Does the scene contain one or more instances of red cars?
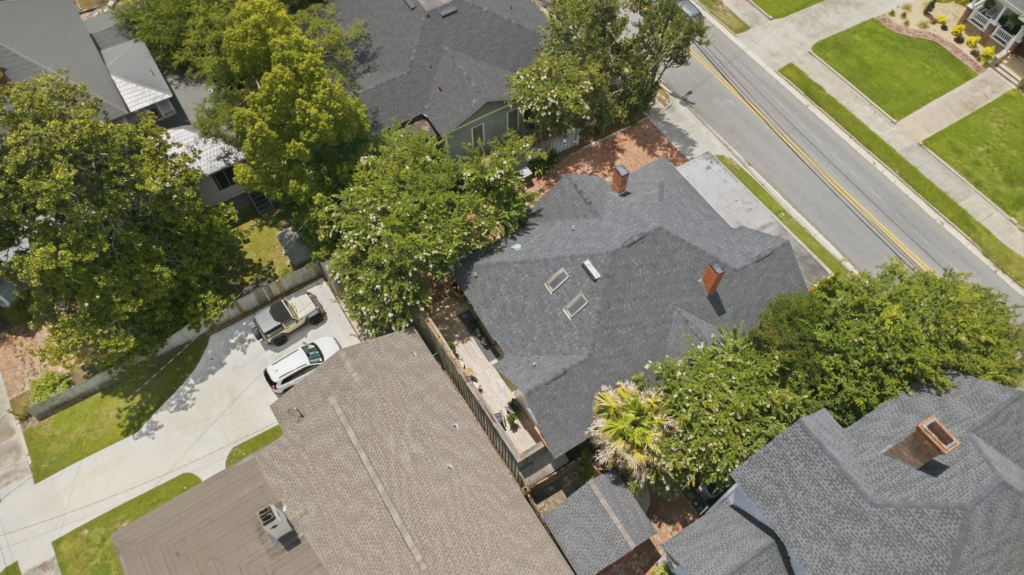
No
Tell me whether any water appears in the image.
No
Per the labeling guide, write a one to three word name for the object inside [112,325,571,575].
house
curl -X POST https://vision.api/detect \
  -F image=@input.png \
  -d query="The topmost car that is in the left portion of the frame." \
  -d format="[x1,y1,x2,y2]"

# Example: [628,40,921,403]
[252,289,328,345]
